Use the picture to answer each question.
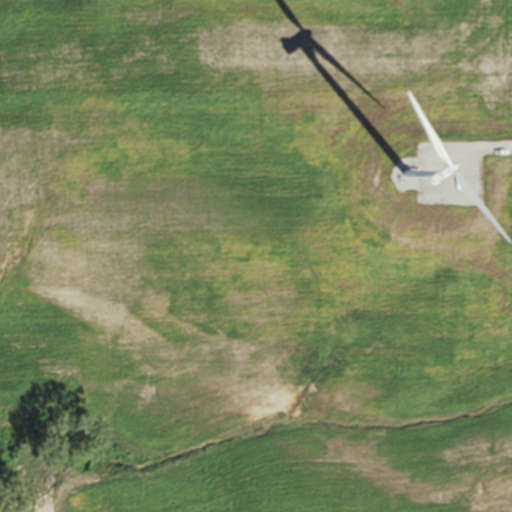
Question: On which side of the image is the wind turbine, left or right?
right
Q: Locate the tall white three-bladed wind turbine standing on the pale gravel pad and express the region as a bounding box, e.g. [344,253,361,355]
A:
[394,90,512,240]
